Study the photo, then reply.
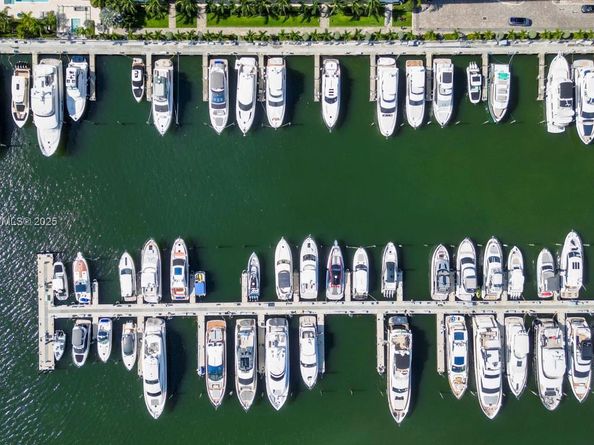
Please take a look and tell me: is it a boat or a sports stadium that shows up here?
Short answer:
boat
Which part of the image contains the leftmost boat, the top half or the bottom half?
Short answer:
top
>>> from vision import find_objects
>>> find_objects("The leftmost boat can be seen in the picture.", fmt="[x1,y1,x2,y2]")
[8,54,34,129]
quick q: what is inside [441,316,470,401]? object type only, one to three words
boat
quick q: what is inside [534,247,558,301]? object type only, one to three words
boat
